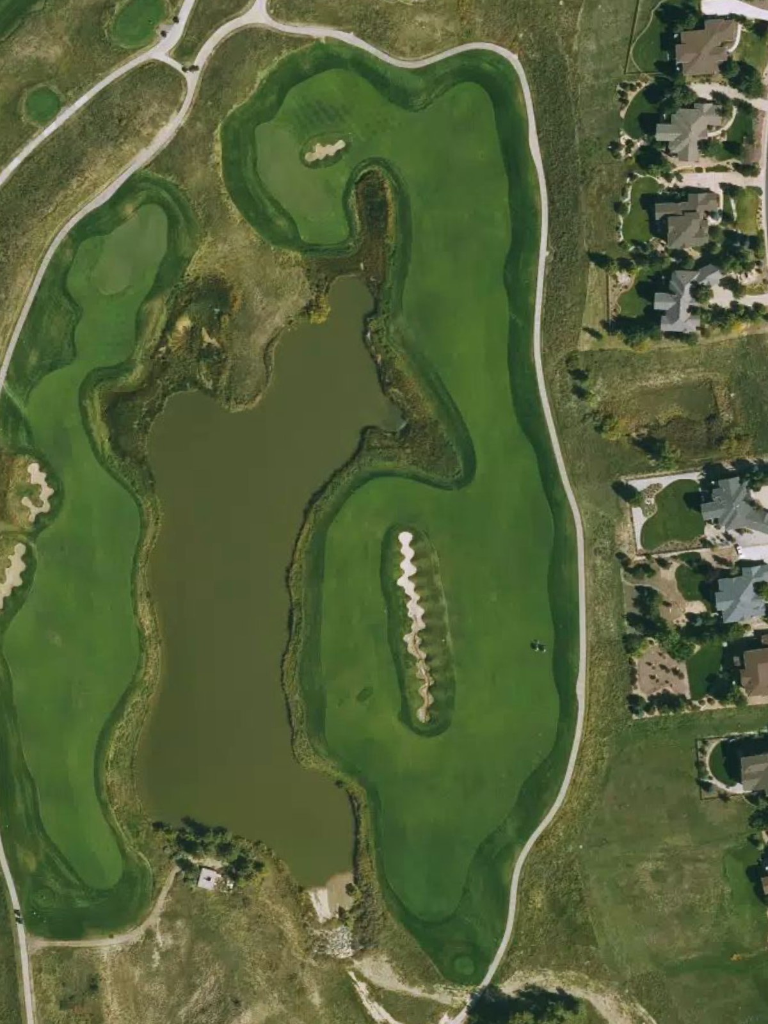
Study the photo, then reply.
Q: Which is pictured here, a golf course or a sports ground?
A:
golf course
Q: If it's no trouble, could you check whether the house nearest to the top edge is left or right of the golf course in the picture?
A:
to its right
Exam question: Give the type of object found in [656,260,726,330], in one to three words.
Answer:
house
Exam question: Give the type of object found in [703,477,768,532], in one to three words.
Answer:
house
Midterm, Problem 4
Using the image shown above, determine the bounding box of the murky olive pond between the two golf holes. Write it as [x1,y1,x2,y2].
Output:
[136,275,406,888]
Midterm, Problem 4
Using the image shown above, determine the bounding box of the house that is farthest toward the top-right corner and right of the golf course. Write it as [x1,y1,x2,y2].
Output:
[678,17,739,73]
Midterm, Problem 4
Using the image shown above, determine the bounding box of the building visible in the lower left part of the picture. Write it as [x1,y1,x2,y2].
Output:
[197,868,218,891]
